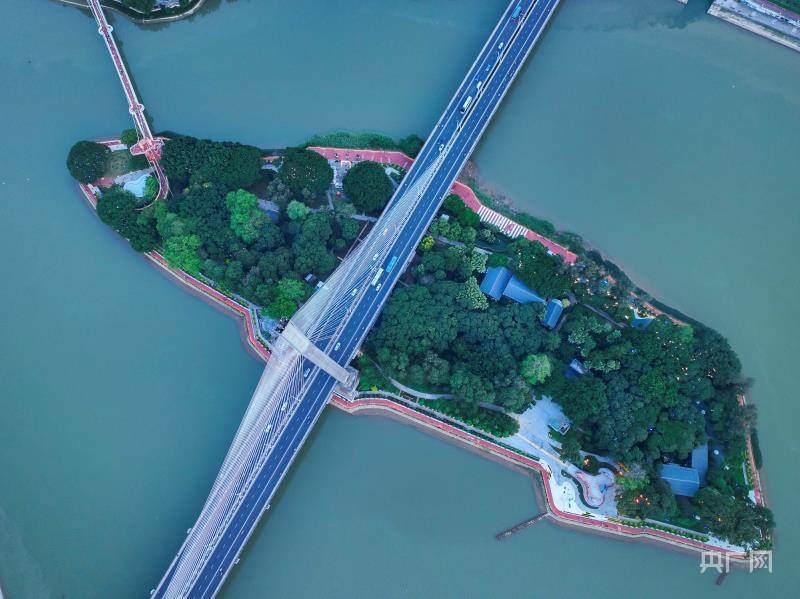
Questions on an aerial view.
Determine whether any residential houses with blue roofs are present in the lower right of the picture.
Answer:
Yes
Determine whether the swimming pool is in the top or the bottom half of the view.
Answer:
top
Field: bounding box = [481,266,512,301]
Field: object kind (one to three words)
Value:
building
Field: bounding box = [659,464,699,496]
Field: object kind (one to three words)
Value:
house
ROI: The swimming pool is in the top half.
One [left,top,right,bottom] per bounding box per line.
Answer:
[123,174,151,198]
